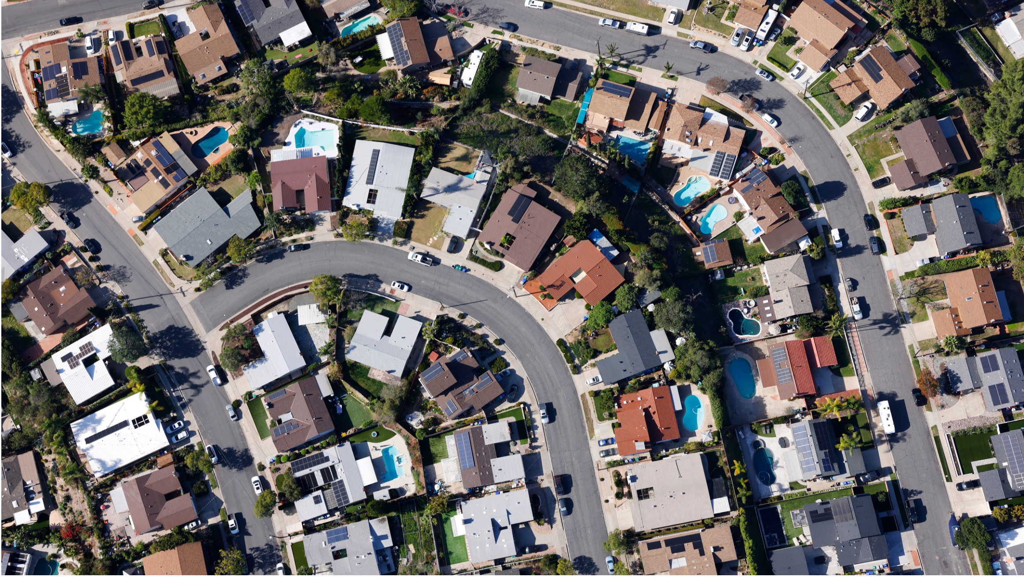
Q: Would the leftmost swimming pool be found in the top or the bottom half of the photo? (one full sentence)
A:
The leftmost swimming pool is in the bottom half of the image.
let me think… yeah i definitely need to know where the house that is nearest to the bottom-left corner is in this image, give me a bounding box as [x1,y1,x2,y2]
[0,451,50,526]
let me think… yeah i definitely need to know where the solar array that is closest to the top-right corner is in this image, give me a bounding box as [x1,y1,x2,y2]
[859,58,883,83]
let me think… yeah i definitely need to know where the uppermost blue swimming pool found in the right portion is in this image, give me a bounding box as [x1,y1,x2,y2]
[606,133,651,164]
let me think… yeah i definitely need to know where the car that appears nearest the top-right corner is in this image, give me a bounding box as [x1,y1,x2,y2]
[854,102,872,121]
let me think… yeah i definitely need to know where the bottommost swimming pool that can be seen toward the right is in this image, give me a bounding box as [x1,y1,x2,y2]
[758,505,787,548]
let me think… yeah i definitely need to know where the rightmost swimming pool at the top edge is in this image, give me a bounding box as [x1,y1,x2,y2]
[338,14,380,37]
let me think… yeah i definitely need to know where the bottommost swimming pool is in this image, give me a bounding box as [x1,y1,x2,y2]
[31,557,61,577]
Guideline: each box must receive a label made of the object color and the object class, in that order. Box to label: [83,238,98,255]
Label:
black car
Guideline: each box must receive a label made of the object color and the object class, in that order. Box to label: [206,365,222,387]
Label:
white vehicle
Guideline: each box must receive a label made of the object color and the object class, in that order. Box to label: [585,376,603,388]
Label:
white vehicle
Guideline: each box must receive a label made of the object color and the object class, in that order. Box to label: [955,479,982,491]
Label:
black vehicle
